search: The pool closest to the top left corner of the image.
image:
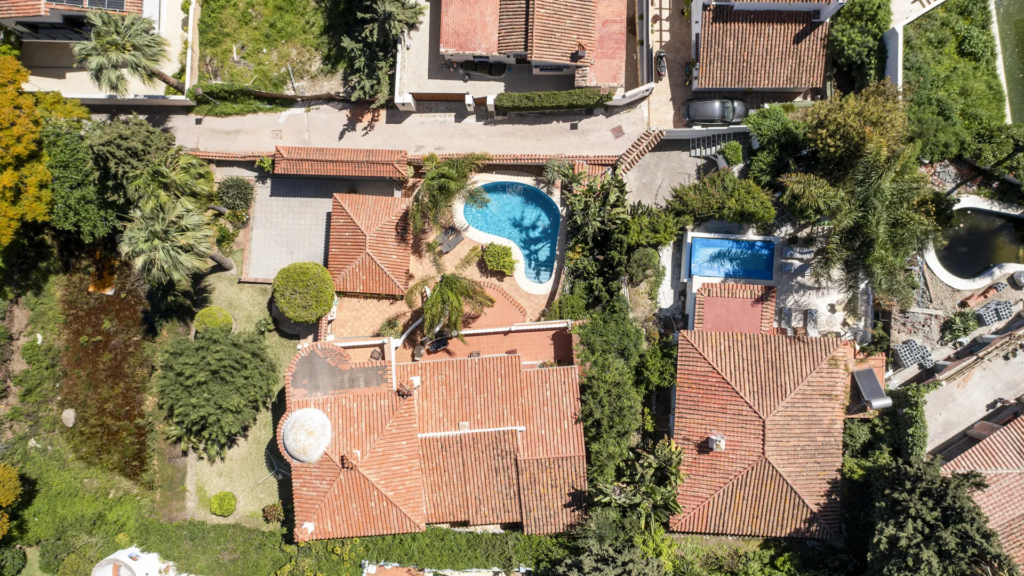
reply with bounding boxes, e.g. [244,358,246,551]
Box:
[454,171,568,294]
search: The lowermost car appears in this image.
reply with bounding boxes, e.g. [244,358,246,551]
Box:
[681,96,746,128]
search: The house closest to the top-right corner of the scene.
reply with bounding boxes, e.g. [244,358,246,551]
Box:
[683,0,848,98]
